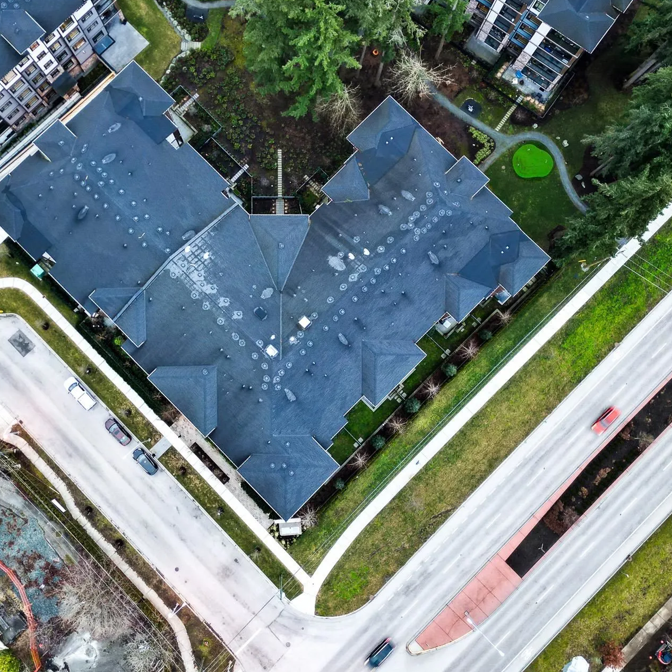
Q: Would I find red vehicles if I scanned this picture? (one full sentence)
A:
Yes, looking at the shot, I can spot a red vehicle.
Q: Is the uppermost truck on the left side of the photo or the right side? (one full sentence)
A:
It is on the left.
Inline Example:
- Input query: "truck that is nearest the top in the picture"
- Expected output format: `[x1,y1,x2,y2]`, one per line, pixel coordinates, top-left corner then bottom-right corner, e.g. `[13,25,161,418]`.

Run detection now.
[59,374,100,412]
